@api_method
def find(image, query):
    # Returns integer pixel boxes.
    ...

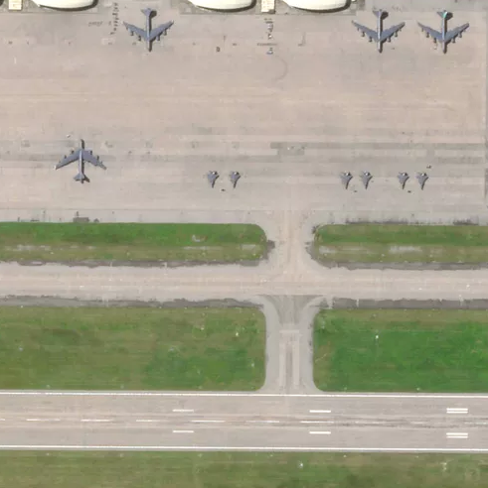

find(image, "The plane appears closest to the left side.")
[56,140,107,183]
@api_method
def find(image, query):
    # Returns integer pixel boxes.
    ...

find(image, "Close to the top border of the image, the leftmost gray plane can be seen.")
[123,7,175,51]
